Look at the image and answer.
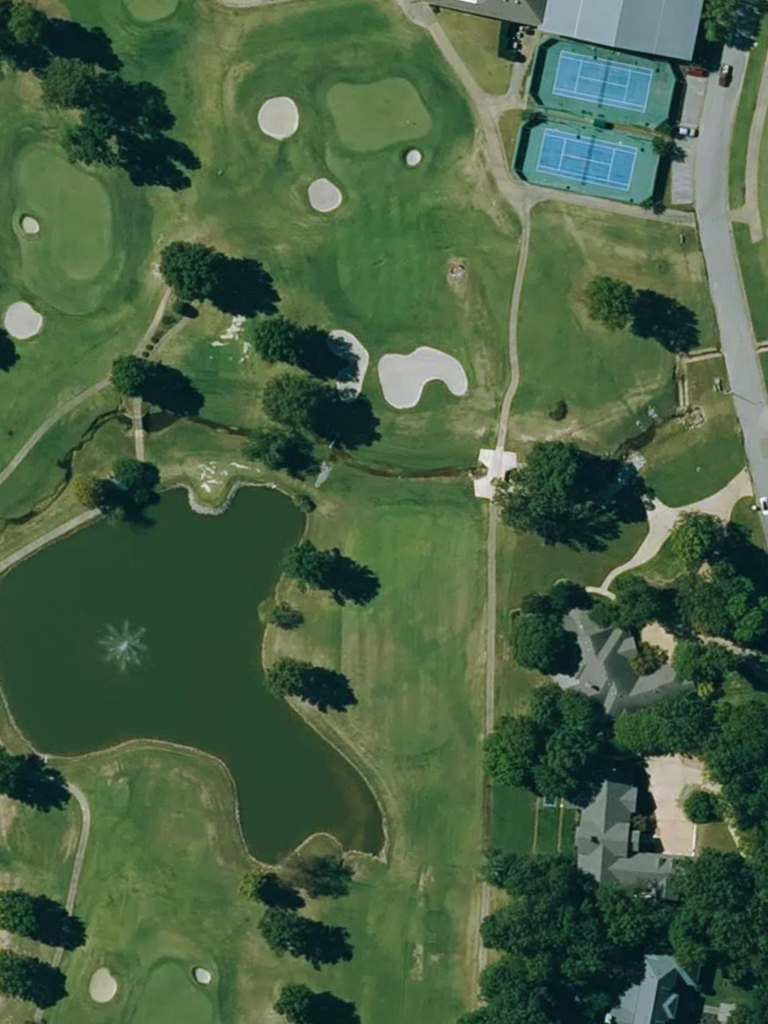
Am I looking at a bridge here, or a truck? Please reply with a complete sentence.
It is a bridge that can be seen here.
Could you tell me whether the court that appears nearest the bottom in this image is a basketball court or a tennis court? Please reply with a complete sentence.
I'd say the court that appears nearest the bottom is a tennis court.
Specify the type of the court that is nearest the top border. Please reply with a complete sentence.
From above, the court that is nearest the top border can be identified as a tennis court.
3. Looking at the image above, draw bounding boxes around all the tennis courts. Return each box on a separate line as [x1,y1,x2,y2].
[528,35,679,130]
[512,117,661,205]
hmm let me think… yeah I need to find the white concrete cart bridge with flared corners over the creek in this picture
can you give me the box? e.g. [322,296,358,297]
[474,448,513,500]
